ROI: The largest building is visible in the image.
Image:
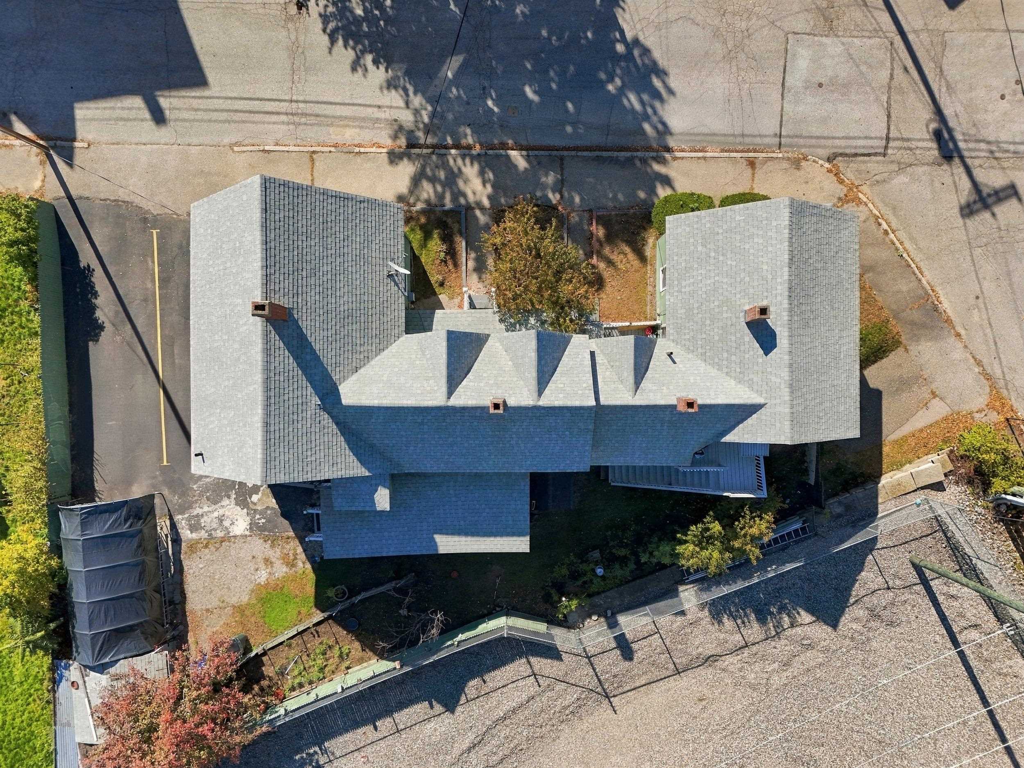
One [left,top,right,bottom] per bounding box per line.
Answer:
[190,175,859,556]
